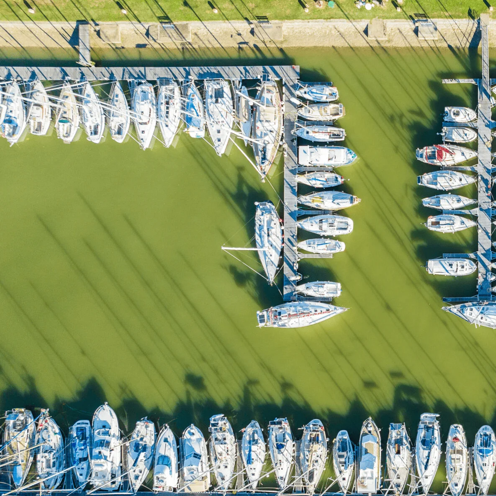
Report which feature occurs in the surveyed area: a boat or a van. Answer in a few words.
boat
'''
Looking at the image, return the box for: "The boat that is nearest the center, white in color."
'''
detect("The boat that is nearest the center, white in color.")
[222,199,288,287]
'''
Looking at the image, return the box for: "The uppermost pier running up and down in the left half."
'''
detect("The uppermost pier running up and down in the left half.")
[78,25,98,66]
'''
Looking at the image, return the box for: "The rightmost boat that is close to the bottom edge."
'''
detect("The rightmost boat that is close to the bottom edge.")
[472,425,496,496]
